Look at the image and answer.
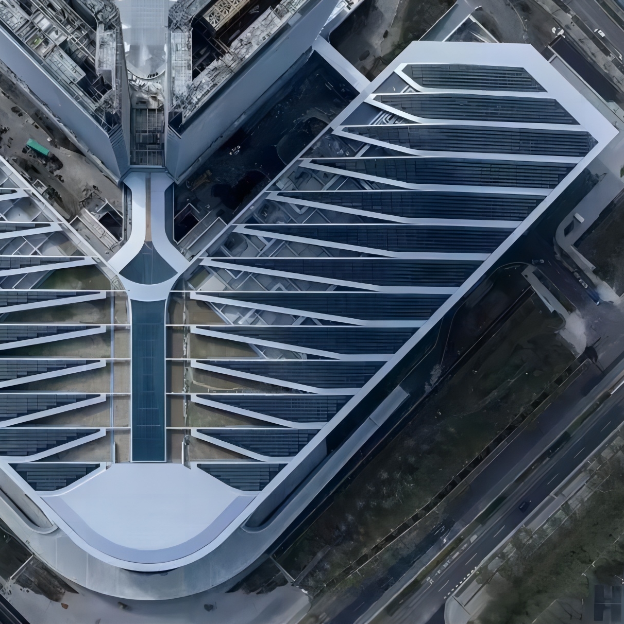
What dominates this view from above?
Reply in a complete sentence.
For the most part, this view shows buildings.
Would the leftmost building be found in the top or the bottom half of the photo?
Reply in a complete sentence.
The leftmost building is in the top half of the image.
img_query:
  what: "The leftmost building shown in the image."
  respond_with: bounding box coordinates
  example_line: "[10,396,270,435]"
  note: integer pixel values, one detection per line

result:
[0,0,128,180]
